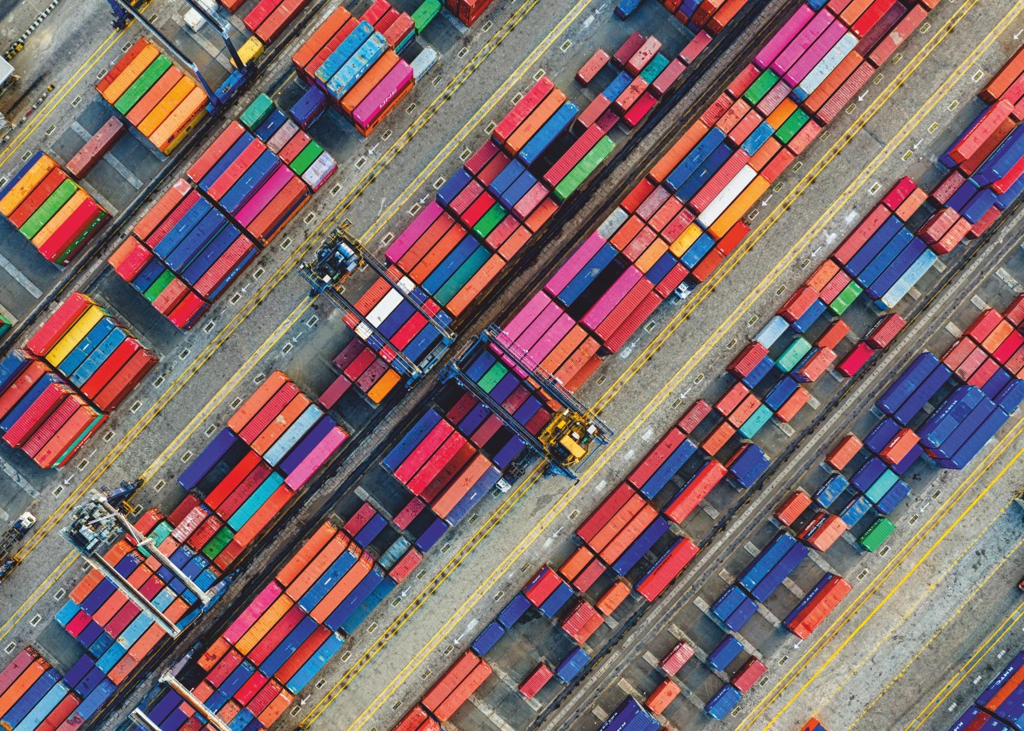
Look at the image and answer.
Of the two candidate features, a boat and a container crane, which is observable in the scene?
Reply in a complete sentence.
Of the two, only a container crane appears.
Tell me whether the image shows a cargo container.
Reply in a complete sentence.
Yes, a cargo container appears in the view.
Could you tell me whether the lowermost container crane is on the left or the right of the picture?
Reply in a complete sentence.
The lowermost container crane sits on the left side.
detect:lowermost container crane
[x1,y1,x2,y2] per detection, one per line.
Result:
[127,629,244,731]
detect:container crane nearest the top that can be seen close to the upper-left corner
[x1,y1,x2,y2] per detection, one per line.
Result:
[105,0,259,121]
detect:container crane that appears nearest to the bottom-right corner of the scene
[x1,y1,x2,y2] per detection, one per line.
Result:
[430,320,616,487]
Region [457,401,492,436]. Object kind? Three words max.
shipping container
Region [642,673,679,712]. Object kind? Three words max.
shipping container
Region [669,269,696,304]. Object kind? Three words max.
truck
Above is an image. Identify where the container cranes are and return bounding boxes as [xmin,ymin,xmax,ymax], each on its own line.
[50,471,249,646]
[127,629,244,731]
[290,217,467,399]
[430,320,616,487]
[105,0,259,121]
